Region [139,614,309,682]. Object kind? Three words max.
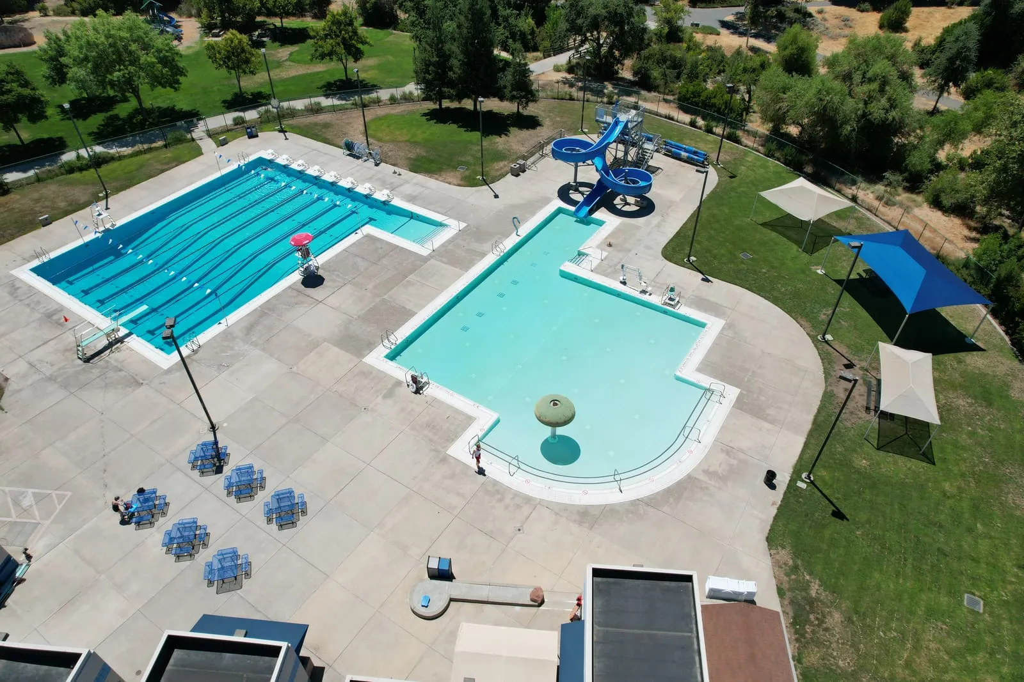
building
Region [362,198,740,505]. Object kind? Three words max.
swimming pool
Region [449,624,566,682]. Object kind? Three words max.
building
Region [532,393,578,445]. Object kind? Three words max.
fountain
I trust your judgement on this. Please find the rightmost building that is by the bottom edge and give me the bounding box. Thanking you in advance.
[559,560,712,682]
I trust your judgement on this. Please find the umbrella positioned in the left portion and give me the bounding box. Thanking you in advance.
[287,233,318,254]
